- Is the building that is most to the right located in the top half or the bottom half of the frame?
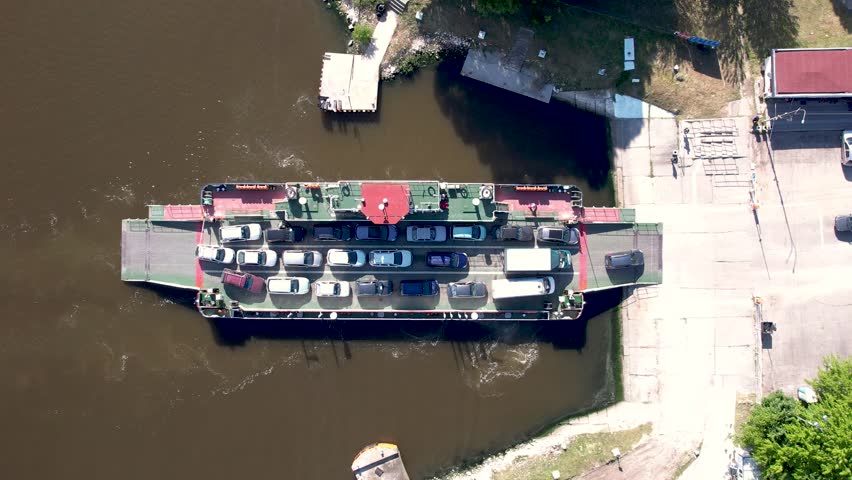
top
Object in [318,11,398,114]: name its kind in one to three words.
pier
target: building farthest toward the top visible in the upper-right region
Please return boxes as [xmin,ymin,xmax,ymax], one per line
[757,47,852,101]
